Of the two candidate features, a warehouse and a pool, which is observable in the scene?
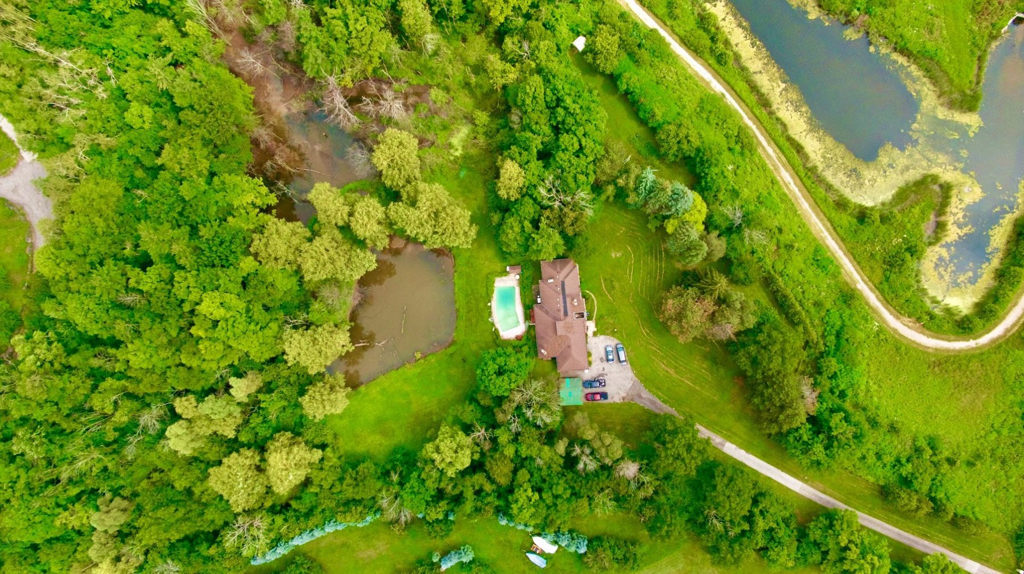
pool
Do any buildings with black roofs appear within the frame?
No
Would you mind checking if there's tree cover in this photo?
Yes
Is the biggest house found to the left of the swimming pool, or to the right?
to its right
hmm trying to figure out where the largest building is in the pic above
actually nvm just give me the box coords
[533,258,590,372]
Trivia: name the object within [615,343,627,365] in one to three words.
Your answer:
vehicle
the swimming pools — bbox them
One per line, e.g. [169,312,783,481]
[491,274,526,339]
